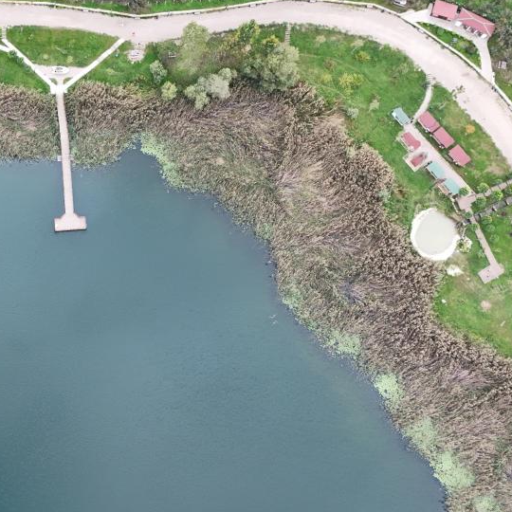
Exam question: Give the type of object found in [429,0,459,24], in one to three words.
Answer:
building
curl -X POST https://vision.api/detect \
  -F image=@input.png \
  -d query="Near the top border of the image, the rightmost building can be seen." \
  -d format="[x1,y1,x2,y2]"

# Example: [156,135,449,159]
[450,8,495,43]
